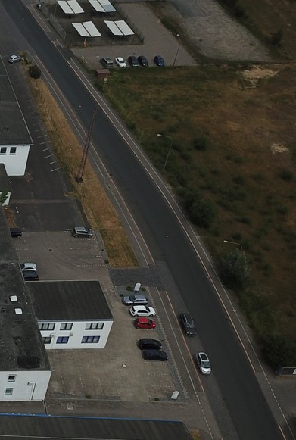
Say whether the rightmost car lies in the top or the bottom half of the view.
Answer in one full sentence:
Seen from above, the rightmost car lies in the bottom half of the view.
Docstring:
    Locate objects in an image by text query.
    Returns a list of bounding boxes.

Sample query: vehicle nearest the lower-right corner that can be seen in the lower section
[194,351,214,374]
